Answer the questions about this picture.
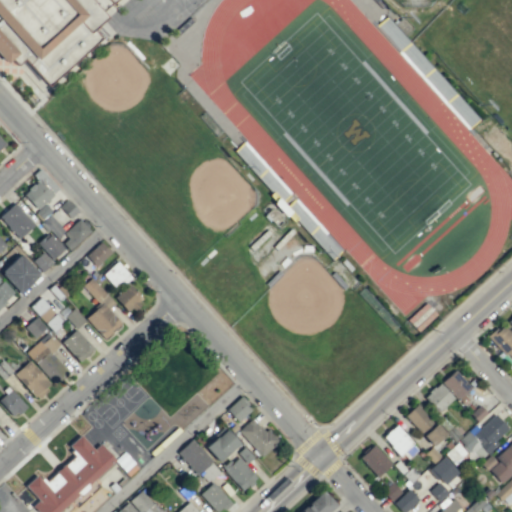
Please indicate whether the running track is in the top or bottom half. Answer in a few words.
top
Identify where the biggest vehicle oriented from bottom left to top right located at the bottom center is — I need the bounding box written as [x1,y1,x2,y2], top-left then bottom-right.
[270,478,292,499]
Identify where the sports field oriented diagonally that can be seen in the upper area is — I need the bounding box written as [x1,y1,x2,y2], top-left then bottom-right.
[226,0,492,276]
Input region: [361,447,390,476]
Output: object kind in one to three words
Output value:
house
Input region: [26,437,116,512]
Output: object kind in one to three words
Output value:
building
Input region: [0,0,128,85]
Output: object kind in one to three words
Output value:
building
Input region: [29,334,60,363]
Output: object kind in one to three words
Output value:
house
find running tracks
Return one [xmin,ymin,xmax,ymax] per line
[190,0,511,316]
